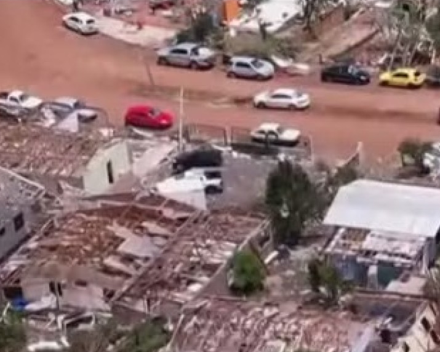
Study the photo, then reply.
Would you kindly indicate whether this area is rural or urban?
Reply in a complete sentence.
The land in this view is best described as urban.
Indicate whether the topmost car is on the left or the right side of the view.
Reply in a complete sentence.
It is on the left.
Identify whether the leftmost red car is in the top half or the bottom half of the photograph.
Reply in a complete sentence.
The leftmost red car sits in the top half of the picture.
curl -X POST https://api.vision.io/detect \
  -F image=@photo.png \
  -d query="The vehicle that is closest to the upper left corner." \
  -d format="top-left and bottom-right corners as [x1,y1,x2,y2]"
[59,14,103,37]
